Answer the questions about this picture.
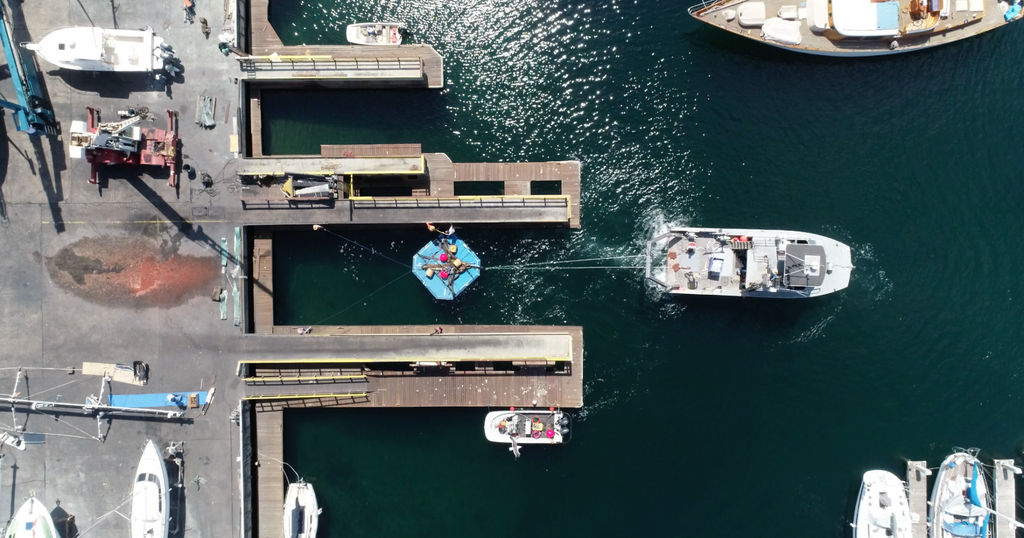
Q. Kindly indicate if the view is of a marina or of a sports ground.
marina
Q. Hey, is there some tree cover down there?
No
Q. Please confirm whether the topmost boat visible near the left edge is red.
No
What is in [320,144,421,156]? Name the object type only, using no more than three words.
pier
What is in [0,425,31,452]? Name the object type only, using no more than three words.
boat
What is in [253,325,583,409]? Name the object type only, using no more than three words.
pier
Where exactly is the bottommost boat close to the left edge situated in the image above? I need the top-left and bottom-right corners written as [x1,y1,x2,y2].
[1,492,59,538]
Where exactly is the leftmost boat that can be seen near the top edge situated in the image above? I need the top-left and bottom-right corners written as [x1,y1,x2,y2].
[20,0,184,78]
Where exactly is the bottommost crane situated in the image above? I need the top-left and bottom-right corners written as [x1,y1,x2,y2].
[70,103,181,189]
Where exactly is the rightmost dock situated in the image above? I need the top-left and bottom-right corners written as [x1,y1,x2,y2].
[992,459,1017,538]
